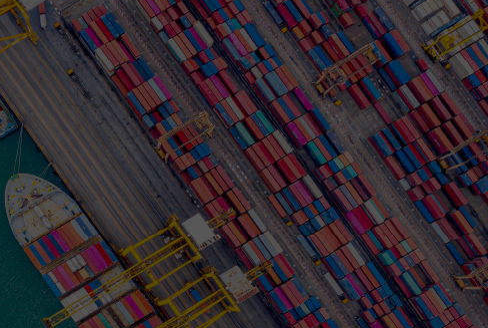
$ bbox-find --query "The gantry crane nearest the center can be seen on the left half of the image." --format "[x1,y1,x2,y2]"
[153,112,217,163]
